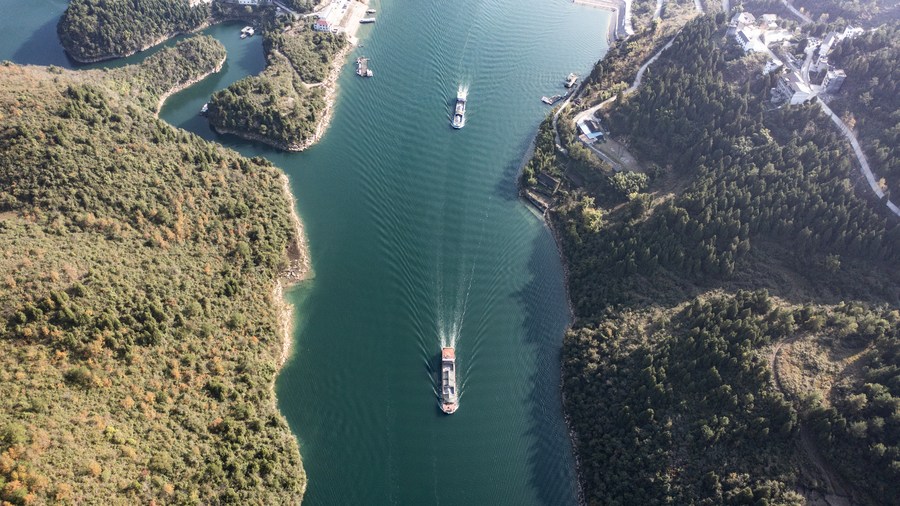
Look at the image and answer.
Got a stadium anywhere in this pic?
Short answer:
No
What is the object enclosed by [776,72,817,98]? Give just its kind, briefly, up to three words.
building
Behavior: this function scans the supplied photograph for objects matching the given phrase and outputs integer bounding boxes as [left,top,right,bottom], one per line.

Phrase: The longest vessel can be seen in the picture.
[439,347,457,409]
